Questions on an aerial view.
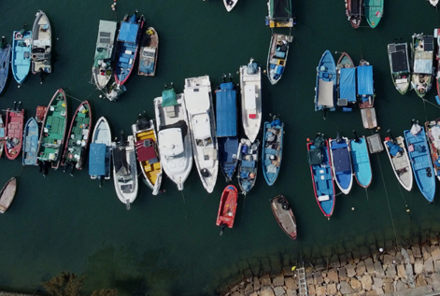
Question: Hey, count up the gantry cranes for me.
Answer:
none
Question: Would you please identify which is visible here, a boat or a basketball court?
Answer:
boat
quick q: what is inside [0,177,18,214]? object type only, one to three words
boat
